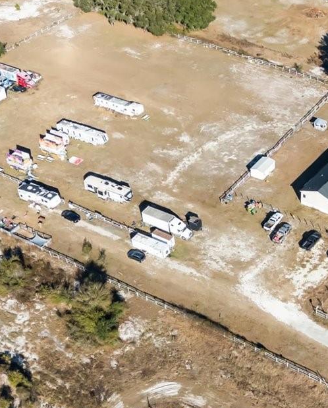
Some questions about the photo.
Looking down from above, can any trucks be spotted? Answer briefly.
Yes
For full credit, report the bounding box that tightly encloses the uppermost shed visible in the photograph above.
[249,155,277,180]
